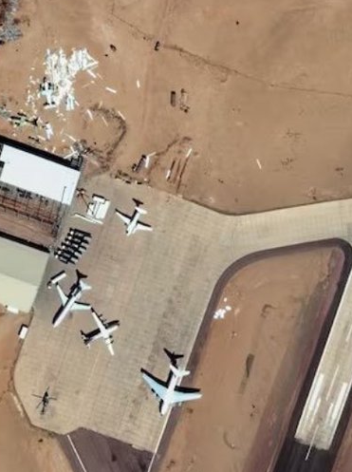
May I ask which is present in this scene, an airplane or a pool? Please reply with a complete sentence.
Of the two, only an airplane appears.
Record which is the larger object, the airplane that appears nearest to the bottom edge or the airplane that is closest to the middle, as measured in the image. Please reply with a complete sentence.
The airplane that appears nearest to the bottom edge takes up more space than the airplane that is closest to the middle does.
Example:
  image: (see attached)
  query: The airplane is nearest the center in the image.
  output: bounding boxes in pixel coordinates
[115,206,153,235]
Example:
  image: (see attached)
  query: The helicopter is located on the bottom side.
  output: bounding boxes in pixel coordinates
[33,389,57,415]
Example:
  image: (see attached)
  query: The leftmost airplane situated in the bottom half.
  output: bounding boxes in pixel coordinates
[53,281,91,327]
